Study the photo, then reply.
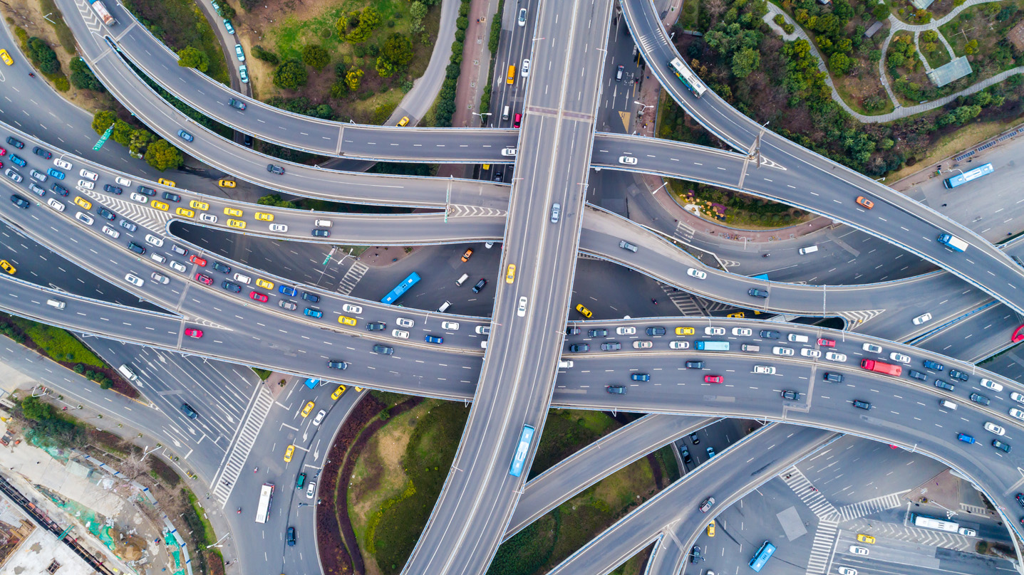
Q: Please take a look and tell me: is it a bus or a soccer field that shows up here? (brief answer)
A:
bus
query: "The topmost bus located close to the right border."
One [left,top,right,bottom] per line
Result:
[938,163,996,190]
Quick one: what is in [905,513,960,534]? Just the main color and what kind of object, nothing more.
white bus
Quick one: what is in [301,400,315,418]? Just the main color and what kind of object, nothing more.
yellow car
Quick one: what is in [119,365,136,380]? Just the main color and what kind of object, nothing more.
white vehicle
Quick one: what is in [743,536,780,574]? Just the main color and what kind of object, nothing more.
blue bus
